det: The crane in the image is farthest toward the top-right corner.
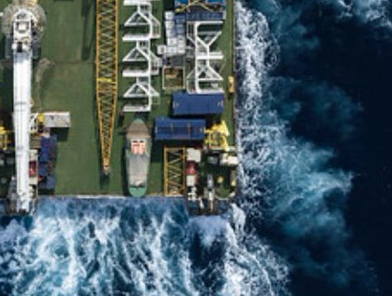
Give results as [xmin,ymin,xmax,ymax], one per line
[203,118,226,149]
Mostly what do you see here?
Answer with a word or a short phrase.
water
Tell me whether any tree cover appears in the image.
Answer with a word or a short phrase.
No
